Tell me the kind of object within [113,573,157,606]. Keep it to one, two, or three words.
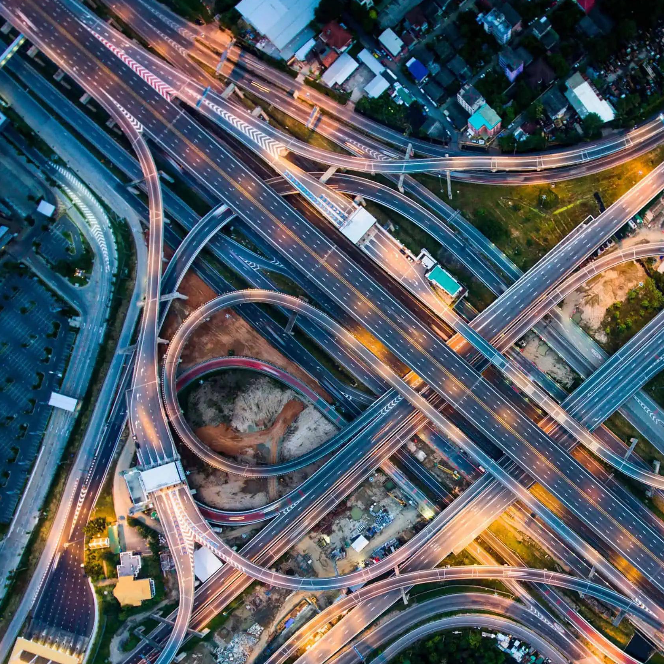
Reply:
house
